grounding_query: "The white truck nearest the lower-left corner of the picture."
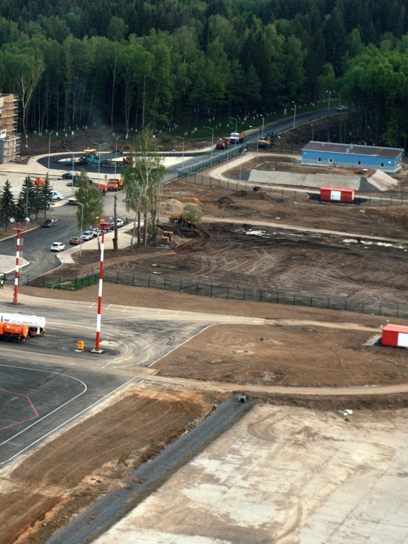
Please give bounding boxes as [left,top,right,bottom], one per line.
[0,313,47,338]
